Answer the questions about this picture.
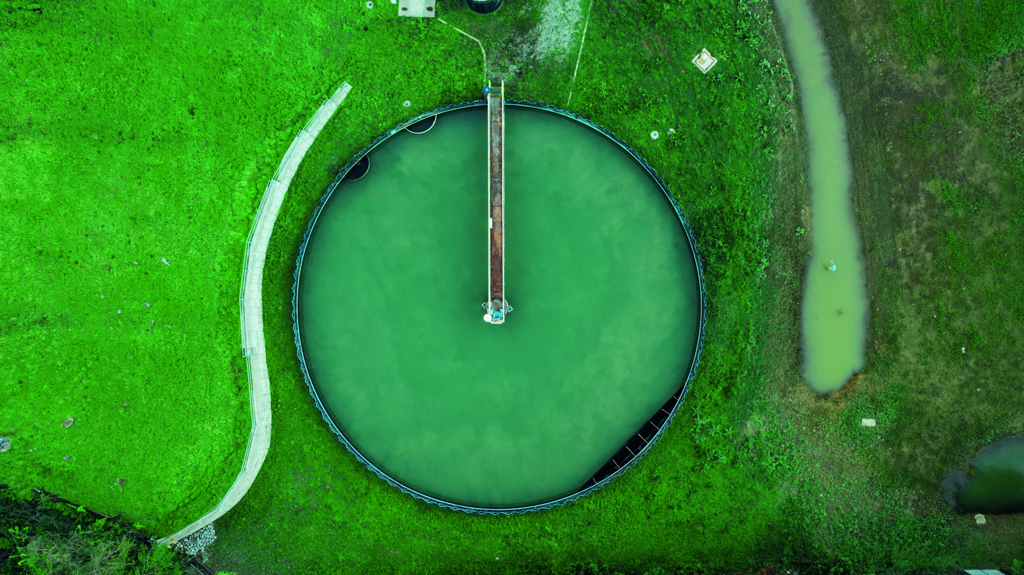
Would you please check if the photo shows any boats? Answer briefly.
No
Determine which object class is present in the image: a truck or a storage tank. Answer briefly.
storage tank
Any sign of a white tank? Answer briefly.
No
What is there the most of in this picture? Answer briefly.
grass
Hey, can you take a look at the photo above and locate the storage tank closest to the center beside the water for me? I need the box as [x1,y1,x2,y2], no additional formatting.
[290,97,708,516]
